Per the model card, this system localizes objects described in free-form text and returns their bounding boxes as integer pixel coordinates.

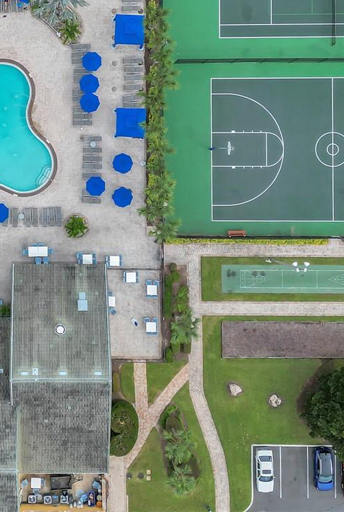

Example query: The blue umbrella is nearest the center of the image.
[111,186,133,208]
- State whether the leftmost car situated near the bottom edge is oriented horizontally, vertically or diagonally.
vertically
